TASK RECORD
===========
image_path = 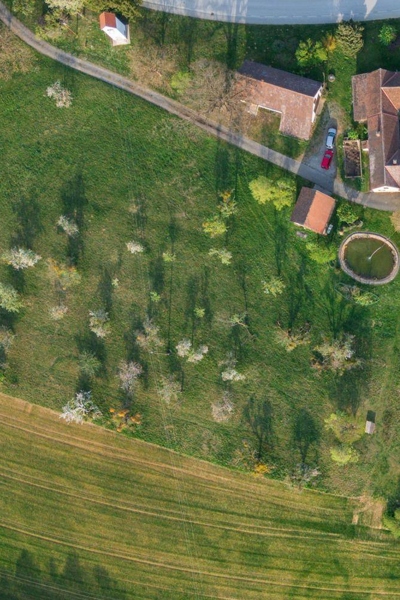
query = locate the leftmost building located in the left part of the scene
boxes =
[100,12,126,44]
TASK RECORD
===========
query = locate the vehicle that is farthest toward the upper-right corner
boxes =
[325,127,337,150]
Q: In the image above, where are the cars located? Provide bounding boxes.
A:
[320,147,334,170]
[325,127,337,150]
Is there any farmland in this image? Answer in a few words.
Yes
